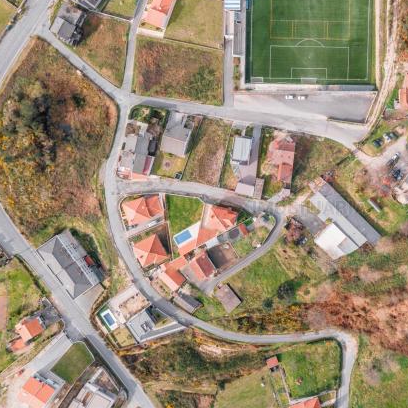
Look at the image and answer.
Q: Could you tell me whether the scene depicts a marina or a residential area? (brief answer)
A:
residential area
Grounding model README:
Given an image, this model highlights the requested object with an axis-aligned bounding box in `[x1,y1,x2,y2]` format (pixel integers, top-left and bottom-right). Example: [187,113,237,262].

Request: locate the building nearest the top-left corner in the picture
[55,5,85,43]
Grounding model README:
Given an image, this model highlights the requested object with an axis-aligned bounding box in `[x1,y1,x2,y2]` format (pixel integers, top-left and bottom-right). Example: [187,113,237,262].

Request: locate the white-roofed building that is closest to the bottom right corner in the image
[314,223,359,259]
